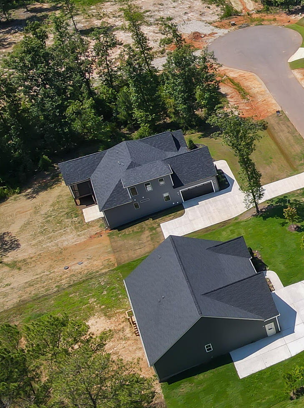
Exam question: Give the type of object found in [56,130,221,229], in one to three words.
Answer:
house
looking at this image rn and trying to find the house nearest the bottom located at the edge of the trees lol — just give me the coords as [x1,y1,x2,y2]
[124,234,283,382]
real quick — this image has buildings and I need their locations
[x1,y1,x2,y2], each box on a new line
[56,130,221,229]
[124,234,283,382]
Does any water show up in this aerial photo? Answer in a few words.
No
